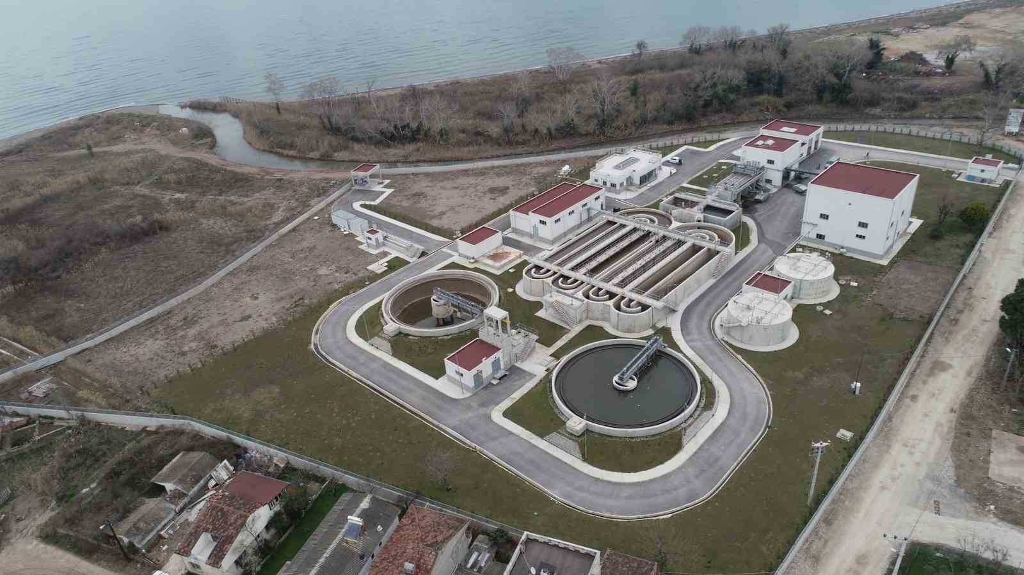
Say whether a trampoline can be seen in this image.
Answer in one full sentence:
No, no trampoline is visible in the view.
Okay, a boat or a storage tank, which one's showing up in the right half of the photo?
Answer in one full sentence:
Visible in the right half of the photo is a storage tank.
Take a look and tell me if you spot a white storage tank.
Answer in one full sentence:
Yes, a white storage tank can be made out from above.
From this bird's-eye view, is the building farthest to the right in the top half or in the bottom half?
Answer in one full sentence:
The top half of the photo is where the building farthest to the right is.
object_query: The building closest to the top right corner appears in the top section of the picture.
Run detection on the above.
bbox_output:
[965,157,1003,180]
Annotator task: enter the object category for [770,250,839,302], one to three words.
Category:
storage tank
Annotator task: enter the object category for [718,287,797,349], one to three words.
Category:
storage tank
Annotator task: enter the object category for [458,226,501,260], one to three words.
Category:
building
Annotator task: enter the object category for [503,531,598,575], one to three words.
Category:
house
